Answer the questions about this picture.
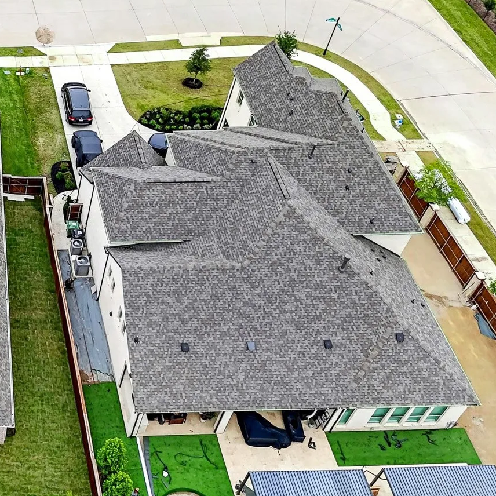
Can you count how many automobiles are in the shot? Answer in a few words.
3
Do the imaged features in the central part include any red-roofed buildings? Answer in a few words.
No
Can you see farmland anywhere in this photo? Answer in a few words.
No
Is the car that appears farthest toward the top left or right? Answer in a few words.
left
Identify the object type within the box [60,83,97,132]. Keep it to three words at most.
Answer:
car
